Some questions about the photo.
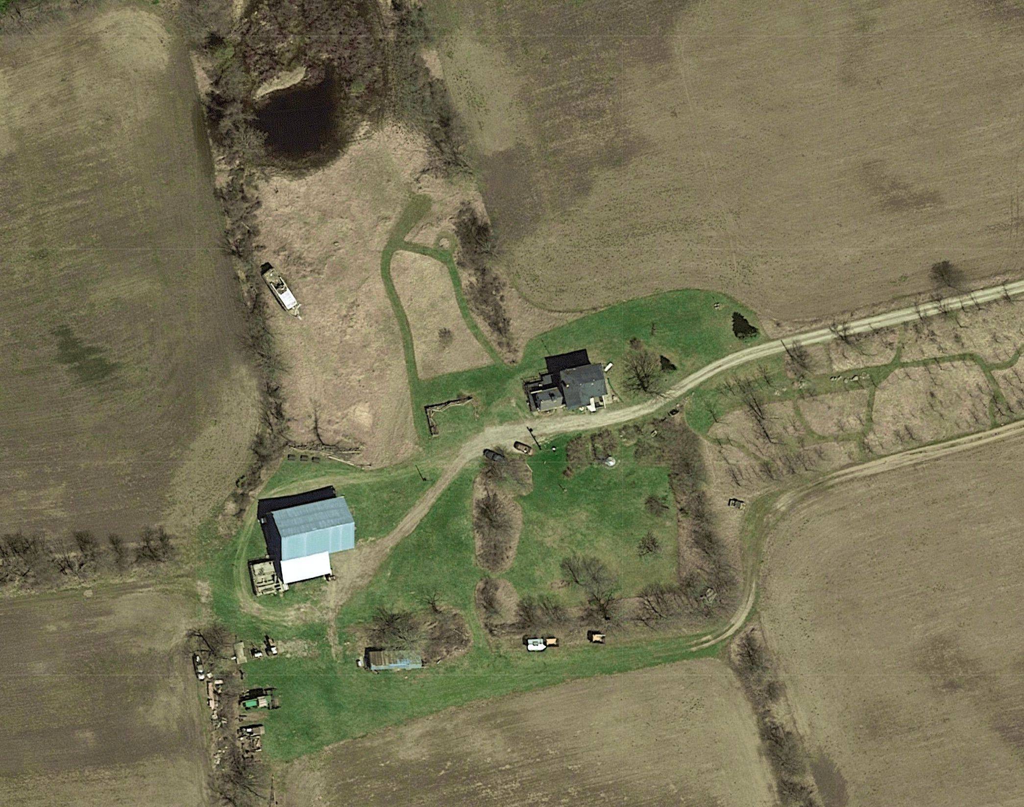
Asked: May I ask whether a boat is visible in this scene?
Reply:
Yes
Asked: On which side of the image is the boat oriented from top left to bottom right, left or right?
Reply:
left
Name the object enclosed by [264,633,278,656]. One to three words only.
work vehicle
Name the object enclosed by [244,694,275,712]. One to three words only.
work vehicle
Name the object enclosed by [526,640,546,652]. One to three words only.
vehicle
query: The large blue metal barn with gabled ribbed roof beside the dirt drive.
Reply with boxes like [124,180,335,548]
[267,497,352,584]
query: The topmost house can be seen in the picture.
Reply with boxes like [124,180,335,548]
[524,363,607,412]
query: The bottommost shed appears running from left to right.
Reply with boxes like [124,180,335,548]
[366,650,421,671]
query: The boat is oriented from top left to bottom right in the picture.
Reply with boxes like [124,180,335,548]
[262,268,301,319]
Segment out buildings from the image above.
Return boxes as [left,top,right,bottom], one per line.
[366,650,421,671]
[267,497,352,584]
[524,363,607,412]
